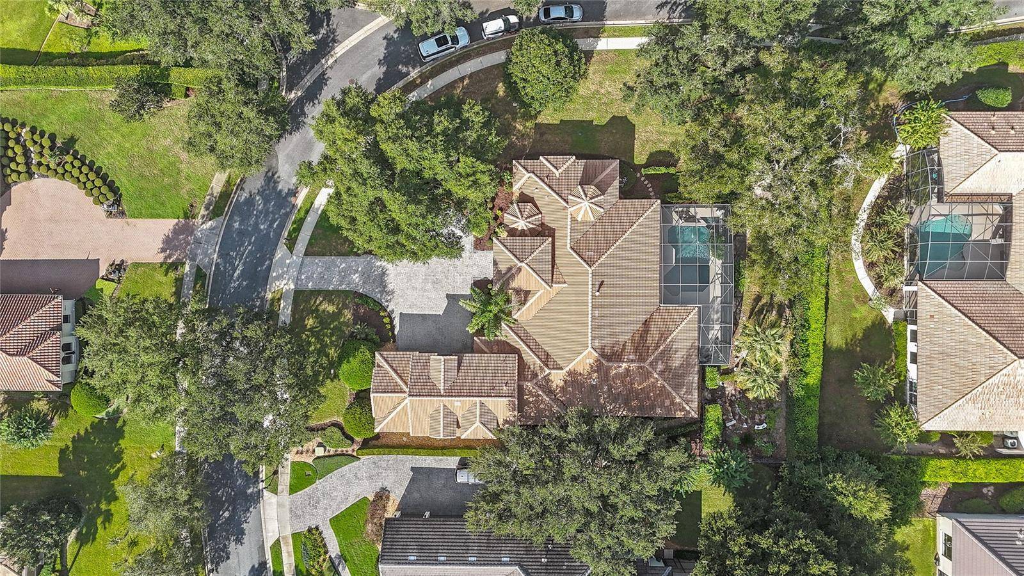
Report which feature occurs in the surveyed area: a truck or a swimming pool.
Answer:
swimming pool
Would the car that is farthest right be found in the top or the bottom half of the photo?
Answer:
top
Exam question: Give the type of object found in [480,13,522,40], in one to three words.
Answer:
car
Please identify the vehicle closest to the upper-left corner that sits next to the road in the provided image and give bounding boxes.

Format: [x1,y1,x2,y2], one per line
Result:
[417,29,471,61]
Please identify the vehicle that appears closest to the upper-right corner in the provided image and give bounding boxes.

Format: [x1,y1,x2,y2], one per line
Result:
[538,2,583,25]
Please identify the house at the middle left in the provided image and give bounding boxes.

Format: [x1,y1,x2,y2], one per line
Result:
[0,294,79,392]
